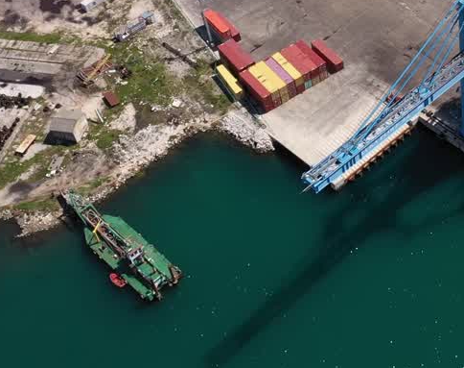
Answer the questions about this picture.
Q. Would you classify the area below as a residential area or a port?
port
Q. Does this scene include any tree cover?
No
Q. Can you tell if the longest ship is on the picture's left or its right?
left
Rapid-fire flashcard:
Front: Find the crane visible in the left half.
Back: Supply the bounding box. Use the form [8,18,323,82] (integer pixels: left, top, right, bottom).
[72,49,109,83]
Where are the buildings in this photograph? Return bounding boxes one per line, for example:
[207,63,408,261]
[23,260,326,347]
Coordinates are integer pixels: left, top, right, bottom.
[104,90,120,111]
[80,0,108,17]
[43,107,79,141]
